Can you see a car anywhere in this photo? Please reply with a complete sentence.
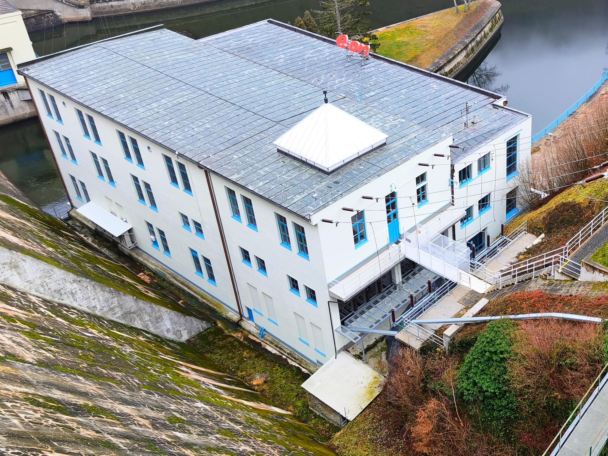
No, I can see no car in this picture.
